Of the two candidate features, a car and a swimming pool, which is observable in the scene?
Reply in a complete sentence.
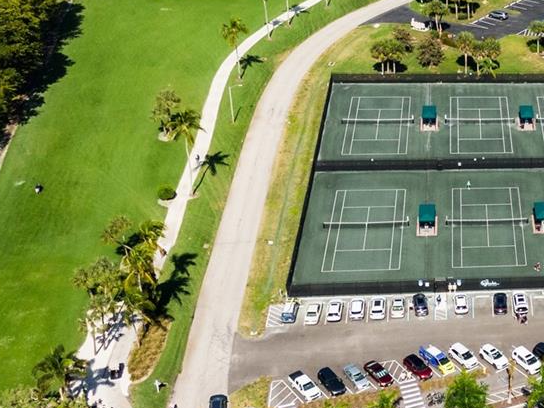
Looking from above, you can make out a car.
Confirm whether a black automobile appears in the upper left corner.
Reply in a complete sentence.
No, no black automobile is visible in the upper left corner.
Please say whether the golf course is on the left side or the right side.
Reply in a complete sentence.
The golf course appears in the left half of the scene.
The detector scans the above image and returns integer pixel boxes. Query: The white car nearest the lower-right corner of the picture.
[512,345,543,374]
